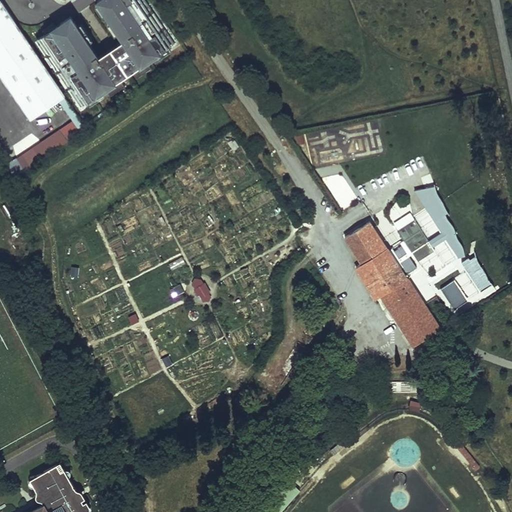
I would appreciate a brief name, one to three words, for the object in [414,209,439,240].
building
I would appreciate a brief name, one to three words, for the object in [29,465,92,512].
house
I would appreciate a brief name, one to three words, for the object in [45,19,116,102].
building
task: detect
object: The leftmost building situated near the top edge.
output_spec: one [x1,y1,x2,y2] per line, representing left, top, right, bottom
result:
[0,2,64,122]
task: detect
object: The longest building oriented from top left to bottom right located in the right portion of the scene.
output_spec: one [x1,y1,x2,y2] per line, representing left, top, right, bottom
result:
[345,222,438,348]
